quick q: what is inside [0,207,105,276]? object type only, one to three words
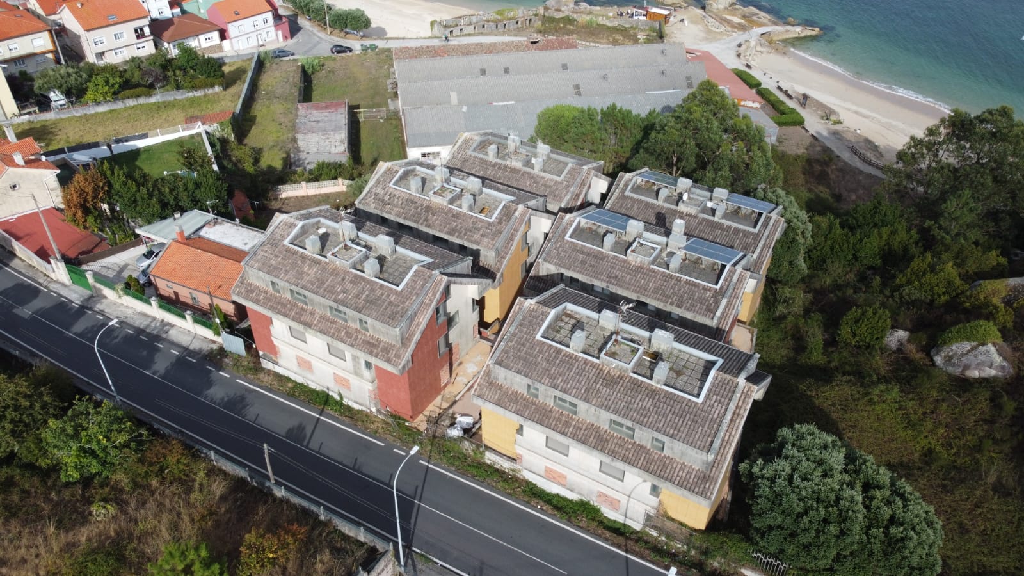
shed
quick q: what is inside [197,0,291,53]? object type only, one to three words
house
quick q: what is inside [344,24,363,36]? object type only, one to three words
vehicle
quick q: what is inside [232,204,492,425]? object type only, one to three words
building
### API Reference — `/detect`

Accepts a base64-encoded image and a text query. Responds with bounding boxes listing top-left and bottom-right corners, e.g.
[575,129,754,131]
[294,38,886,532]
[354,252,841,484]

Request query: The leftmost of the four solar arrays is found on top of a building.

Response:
[581,204,631,247]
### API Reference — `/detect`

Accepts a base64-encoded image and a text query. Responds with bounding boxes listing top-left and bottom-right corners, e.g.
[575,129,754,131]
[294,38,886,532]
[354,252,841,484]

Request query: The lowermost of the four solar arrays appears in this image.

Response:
[681,234,739,277]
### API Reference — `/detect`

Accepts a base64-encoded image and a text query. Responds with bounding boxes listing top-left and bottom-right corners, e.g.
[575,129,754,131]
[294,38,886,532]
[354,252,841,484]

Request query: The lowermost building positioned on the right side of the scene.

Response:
[472,281,770,562]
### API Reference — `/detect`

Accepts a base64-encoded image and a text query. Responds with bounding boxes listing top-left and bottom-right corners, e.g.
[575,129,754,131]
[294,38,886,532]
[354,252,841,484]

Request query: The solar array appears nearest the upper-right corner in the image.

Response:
[725,190,774,223]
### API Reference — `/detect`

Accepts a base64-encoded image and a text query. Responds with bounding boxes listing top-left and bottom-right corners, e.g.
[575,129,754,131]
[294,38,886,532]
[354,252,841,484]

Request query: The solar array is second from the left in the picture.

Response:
[639,167,681,201]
